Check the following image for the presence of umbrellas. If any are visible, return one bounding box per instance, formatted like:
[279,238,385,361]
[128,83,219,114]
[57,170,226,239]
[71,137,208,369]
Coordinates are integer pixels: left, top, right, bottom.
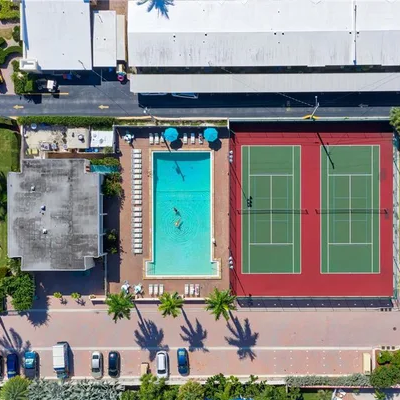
[204,127,219,142]
[164,127,179,142]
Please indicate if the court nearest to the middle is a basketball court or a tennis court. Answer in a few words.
tennis court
